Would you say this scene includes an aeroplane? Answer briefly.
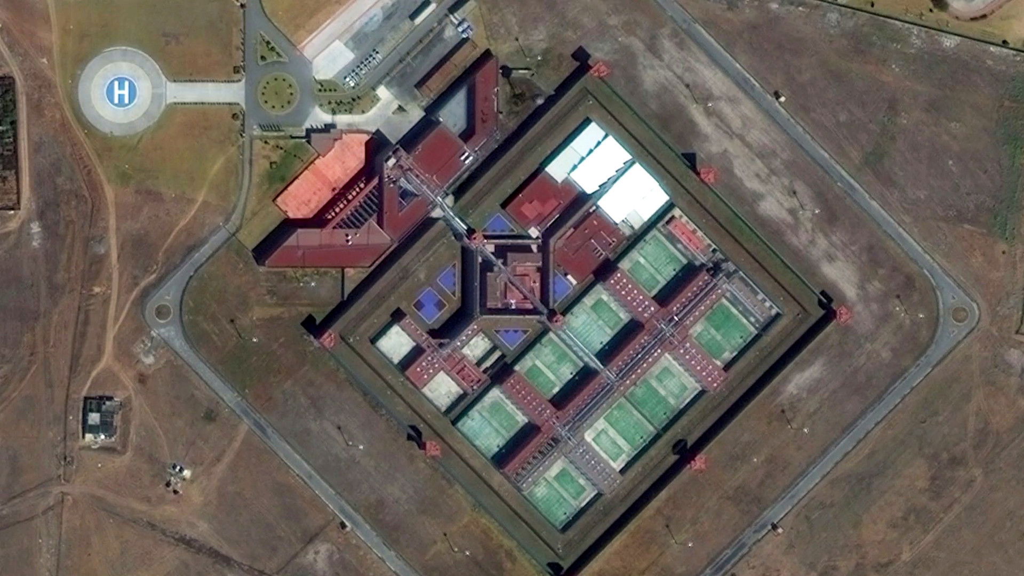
No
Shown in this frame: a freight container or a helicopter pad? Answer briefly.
helicopter pad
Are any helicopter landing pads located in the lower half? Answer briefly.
No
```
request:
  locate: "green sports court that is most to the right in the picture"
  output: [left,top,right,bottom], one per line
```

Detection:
[693,297,759,366]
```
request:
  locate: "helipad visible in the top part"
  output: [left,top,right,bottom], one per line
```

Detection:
[78,46,165,135]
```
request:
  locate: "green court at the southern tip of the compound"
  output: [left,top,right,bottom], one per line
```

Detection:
[523,457,598,530]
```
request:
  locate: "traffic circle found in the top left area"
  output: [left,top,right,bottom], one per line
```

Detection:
[257,72,299,114]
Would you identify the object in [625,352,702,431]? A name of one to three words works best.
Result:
sports court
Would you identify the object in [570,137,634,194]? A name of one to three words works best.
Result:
building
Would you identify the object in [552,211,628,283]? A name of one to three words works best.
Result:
building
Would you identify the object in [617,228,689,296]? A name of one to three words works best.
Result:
sports court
